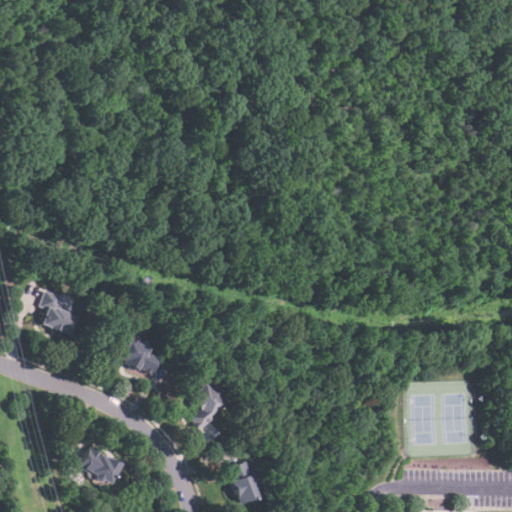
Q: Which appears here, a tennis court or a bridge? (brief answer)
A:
tennis court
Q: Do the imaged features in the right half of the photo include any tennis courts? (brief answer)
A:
Yes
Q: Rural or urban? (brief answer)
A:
rural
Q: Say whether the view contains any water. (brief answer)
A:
No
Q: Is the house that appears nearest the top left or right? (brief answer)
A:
left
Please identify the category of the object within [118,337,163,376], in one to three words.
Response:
house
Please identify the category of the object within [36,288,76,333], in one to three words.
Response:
house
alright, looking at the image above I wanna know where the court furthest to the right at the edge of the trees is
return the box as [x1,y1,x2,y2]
[438,380,478,454]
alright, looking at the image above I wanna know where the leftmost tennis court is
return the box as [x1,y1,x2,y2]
[402,382,441,456]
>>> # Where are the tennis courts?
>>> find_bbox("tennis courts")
[438,380,478,454]
[402,382,441,456]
